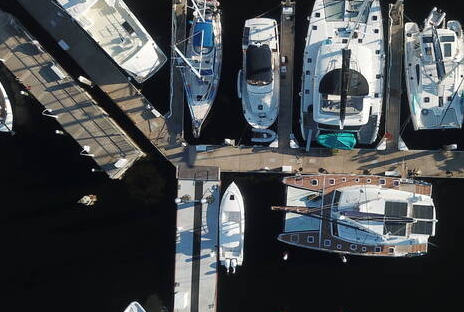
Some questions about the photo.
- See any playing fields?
No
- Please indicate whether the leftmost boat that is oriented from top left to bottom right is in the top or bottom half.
top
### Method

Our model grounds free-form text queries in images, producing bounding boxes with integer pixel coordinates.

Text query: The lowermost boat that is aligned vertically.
[220,182,244,272]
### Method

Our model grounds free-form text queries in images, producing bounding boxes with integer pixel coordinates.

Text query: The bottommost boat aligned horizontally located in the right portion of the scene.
[272,171,438,258]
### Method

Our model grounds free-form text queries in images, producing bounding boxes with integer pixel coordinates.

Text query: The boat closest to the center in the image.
[249,127,274,142]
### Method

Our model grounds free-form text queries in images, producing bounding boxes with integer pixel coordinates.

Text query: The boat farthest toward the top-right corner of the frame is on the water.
[425,2,448,29]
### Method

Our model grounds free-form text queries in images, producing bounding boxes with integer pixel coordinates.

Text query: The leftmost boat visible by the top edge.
[51,0,167,82]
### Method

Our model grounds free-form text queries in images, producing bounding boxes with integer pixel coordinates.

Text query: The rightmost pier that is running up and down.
[386,2,403,150]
